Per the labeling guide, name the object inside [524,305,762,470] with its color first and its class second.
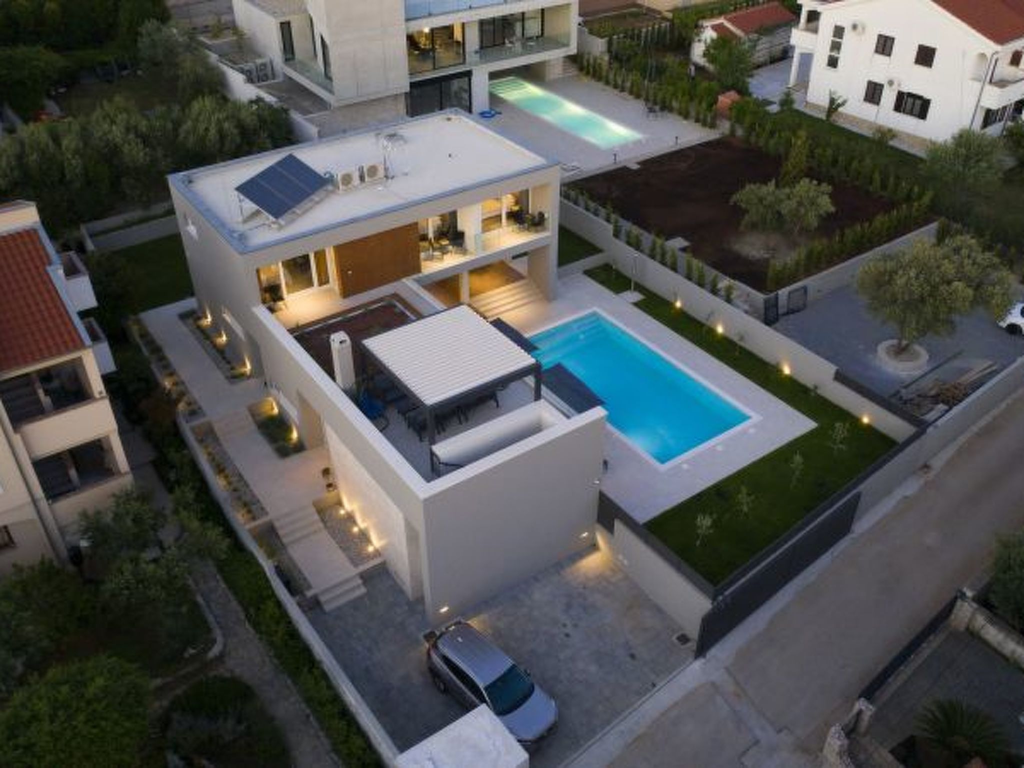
blue swimming pool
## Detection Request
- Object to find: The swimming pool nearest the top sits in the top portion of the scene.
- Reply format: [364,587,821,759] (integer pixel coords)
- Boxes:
[488,78,643,149]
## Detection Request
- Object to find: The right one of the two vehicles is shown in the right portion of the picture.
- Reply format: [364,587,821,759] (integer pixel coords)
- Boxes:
[1004,293,1024,329]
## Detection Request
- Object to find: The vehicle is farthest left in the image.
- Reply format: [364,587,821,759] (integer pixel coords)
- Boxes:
[427,624,560,756]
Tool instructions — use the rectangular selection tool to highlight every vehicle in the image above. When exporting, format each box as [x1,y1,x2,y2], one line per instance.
[1004,293,1024,329]
[427,624,560,756]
